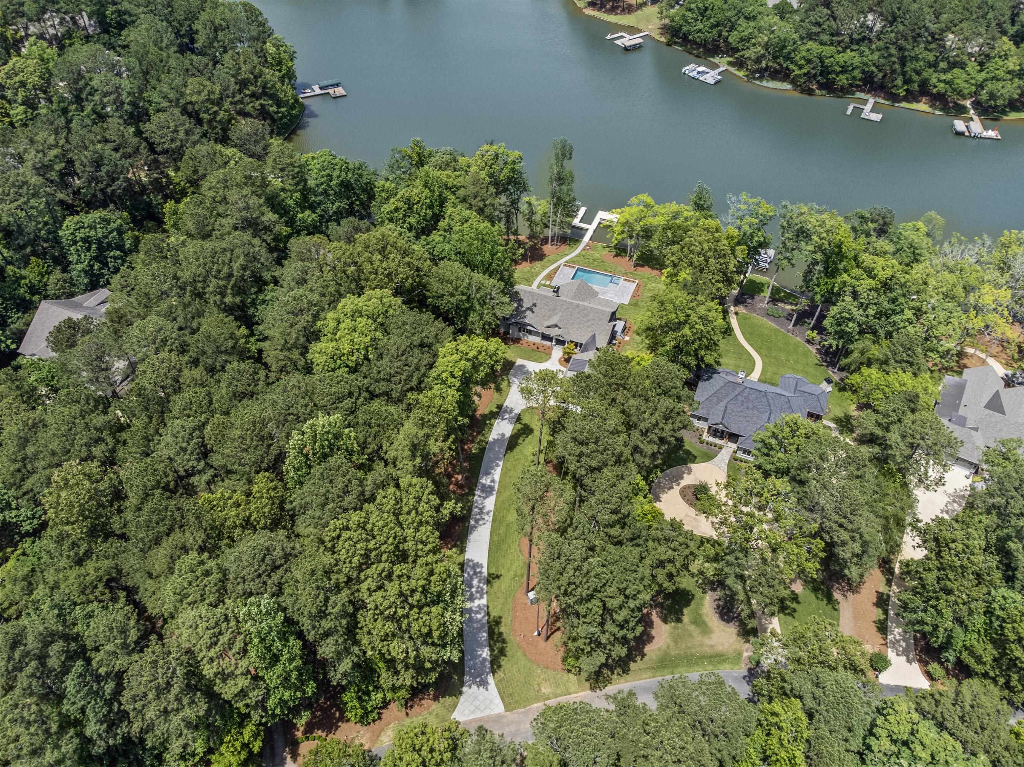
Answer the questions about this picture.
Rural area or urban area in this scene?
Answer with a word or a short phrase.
rural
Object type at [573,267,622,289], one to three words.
swimming pool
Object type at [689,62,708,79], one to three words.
boat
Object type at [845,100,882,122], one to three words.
pier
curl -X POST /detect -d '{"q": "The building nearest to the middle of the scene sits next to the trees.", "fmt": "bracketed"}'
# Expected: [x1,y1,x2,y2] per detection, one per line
[496,278,630,394]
